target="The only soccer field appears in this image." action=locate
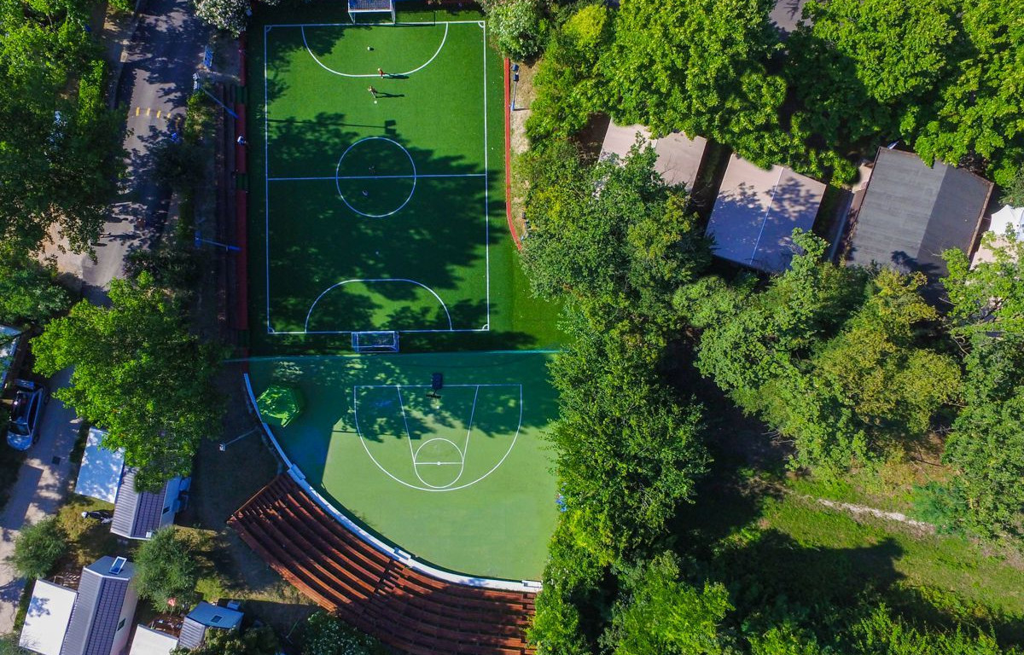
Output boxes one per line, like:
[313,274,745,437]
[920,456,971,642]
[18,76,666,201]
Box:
[236,0,589,356]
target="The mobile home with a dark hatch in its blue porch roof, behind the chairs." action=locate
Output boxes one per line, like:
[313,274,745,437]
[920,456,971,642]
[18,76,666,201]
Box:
[171,591,252,655]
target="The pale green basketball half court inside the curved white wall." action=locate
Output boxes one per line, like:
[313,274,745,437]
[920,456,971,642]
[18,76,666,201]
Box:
[246,352,589,581]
